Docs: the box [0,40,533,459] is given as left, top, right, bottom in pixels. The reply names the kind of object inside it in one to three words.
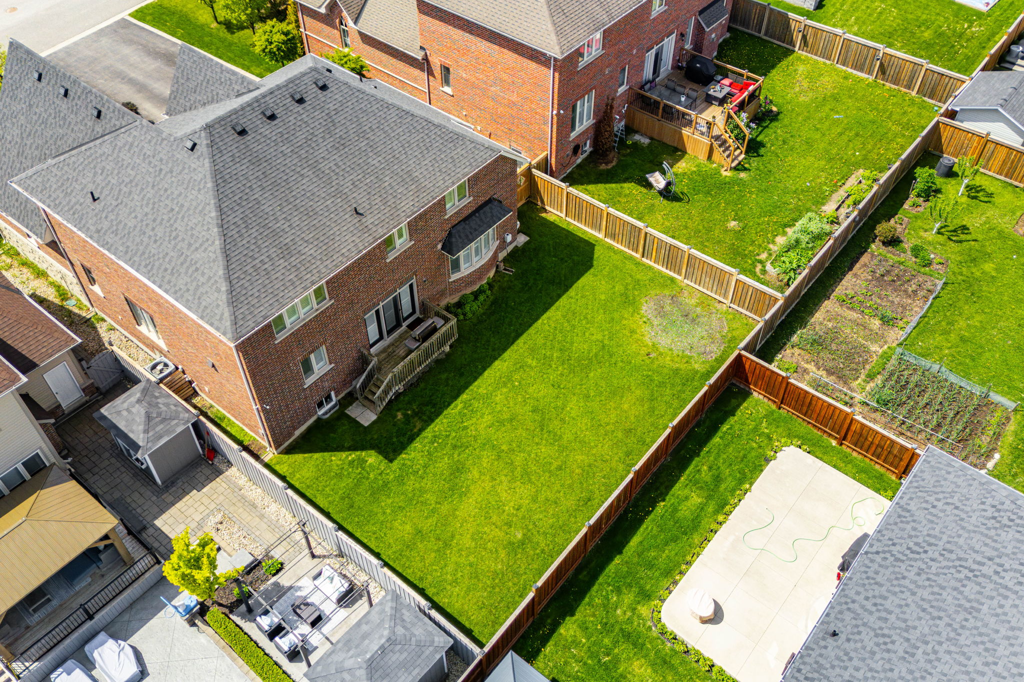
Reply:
house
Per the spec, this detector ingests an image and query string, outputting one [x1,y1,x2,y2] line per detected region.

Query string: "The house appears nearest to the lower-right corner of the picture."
[779,445,1024,682]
